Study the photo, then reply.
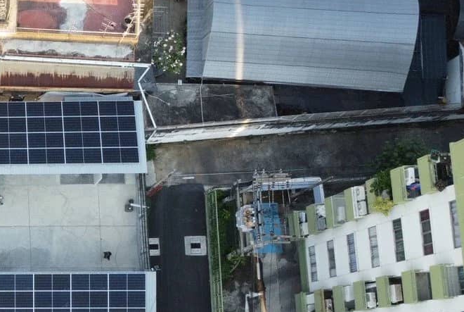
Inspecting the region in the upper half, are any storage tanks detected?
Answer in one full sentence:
No, there's no storage tank to be seen in the upper half.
